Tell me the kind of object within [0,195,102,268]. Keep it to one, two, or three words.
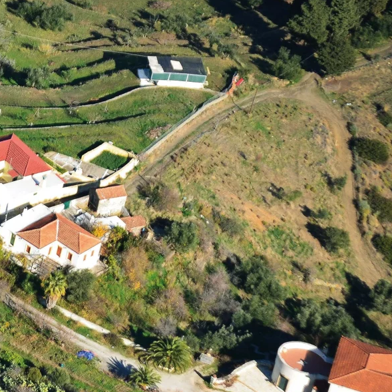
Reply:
house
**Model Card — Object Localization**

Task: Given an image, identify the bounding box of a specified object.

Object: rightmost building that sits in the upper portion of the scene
[138,55,208,90]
